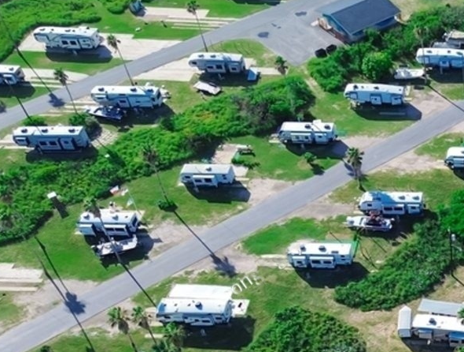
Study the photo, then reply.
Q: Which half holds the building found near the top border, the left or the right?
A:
right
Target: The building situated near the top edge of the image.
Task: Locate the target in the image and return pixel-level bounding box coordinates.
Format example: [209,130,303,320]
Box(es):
[318,0,401,43]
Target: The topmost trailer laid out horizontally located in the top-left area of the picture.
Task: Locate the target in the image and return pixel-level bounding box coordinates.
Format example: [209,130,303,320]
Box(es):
[37,25,109,53]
